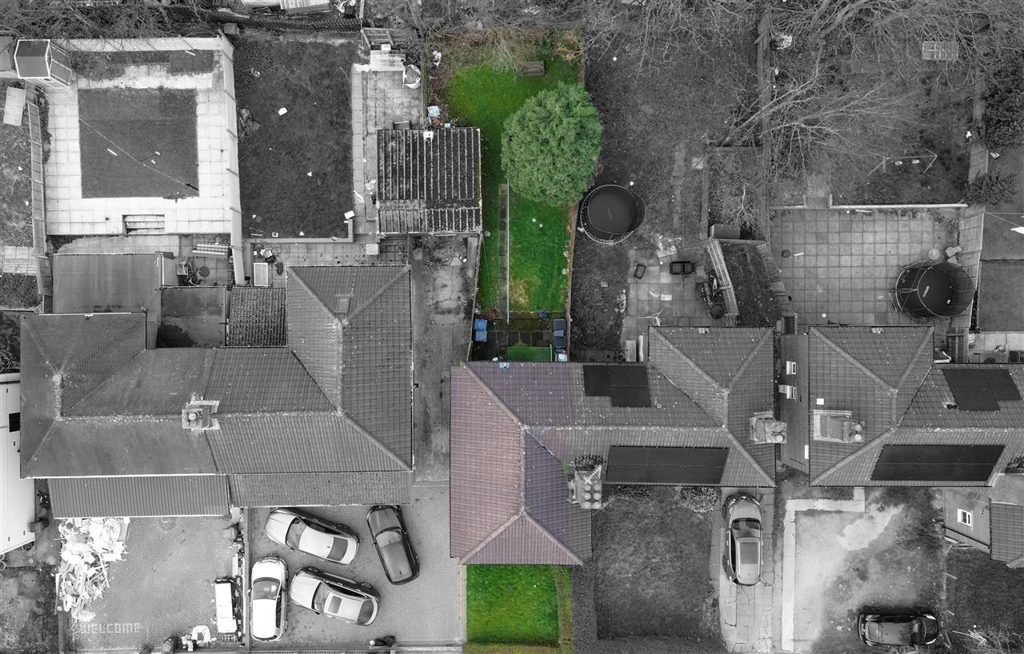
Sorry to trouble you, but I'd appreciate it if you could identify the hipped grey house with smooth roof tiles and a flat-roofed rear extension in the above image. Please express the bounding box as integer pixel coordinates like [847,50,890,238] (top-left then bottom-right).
[19,254,233,518]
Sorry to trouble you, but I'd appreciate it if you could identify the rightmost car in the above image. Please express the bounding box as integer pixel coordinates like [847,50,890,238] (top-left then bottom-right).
[855,606,936,652]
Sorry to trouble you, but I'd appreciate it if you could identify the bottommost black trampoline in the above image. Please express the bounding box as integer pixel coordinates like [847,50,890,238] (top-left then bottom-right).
[886,259,972,324]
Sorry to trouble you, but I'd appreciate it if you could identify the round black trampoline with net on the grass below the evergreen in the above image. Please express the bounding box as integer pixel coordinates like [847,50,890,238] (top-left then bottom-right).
[575,180,642,245]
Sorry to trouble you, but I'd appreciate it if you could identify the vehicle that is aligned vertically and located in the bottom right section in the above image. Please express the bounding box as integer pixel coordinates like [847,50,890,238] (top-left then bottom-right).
[721,492,768,588]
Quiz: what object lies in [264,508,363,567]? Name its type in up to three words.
car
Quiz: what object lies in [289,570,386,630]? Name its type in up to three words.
car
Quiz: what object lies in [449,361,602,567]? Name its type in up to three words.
house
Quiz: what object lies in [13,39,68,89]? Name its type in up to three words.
shed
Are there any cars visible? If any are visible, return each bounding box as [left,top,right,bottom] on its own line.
[721,492,768,588]
[289,570,386,630]
[855,606,936,652]
[245,555,292,643]
[264,508,363,567]
[370,505,423,586]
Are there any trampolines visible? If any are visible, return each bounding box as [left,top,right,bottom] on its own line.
[575,180,642,245]
[886,259,972,324]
